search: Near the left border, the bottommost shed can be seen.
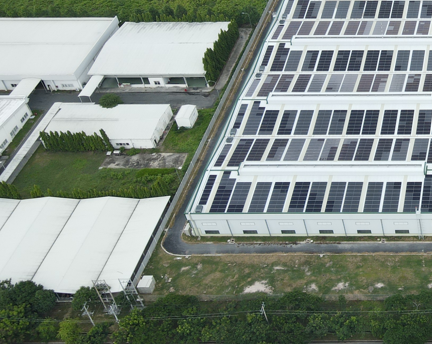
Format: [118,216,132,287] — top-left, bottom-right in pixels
[0,196,172,299]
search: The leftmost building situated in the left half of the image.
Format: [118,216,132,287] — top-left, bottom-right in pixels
[0,96,32,155]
